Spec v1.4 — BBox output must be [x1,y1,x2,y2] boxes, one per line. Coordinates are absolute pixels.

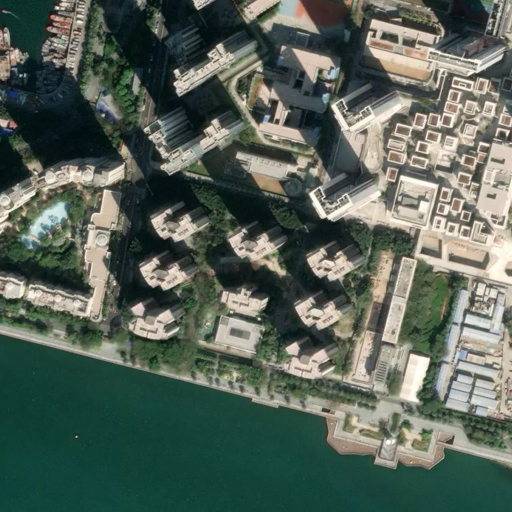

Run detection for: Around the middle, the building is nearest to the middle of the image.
[228,221,286,261]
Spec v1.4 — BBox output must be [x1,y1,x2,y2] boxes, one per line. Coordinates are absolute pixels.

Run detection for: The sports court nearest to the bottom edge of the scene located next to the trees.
[244,171,286,192]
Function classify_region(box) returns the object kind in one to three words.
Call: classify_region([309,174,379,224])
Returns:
building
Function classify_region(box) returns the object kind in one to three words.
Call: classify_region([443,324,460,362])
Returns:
shed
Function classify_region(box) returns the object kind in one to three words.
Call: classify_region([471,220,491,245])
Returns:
house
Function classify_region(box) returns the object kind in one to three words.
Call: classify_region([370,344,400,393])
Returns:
building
